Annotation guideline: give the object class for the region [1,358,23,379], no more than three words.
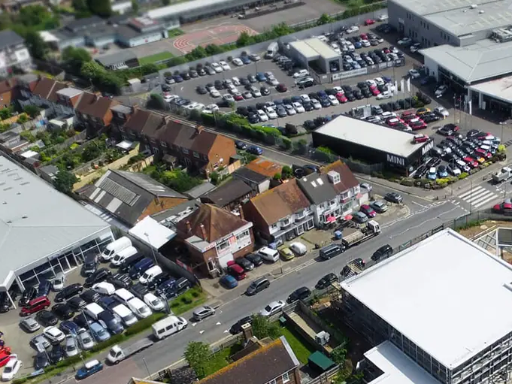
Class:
car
